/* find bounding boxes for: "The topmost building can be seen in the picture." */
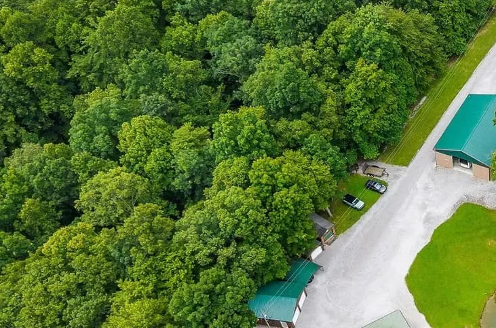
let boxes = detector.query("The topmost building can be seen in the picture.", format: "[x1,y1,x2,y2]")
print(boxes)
[434,94,496,180]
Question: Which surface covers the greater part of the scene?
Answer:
trees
